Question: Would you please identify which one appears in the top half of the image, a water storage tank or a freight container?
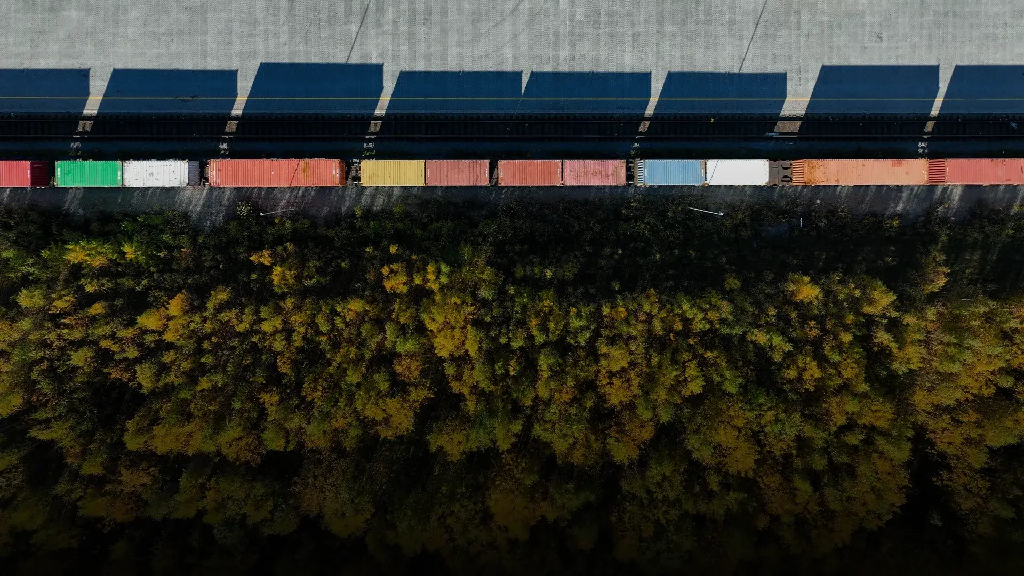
freight container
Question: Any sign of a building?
No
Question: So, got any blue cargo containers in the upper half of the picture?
Yes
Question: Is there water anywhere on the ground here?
No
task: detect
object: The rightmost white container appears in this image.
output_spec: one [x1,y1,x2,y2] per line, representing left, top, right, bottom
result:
[706,160,768,185]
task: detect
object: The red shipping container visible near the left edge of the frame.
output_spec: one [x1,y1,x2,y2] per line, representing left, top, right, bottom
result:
[0,160,49,187]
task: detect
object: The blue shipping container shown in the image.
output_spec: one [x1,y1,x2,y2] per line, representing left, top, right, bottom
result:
[638,160,706,185]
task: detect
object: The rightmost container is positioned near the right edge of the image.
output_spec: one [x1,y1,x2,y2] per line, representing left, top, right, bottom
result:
[928,159,1024,184]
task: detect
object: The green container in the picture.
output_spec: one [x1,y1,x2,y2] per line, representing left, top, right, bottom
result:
[56,160,123,186]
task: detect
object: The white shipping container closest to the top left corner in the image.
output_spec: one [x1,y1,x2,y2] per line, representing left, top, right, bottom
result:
[123,160,200,186]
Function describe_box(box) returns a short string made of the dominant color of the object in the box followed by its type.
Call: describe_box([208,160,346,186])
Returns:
red shipping container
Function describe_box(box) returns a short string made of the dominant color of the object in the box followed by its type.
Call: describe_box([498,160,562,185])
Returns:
red shipping container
